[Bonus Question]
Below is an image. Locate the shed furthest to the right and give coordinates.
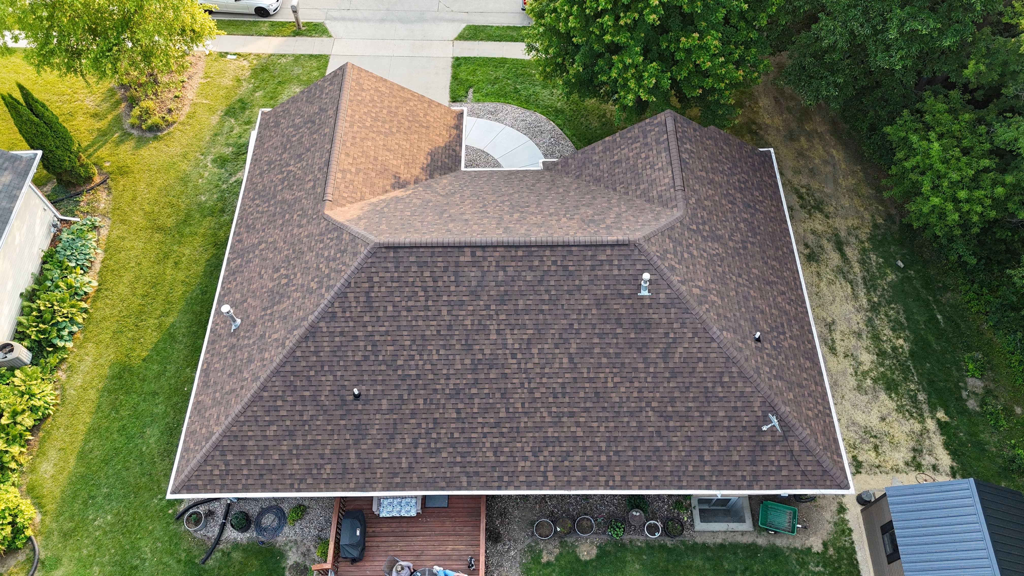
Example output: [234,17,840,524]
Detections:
[860,479,1024,576]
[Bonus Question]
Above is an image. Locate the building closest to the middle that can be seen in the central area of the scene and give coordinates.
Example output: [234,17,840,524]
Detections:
[166,60,855,502]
